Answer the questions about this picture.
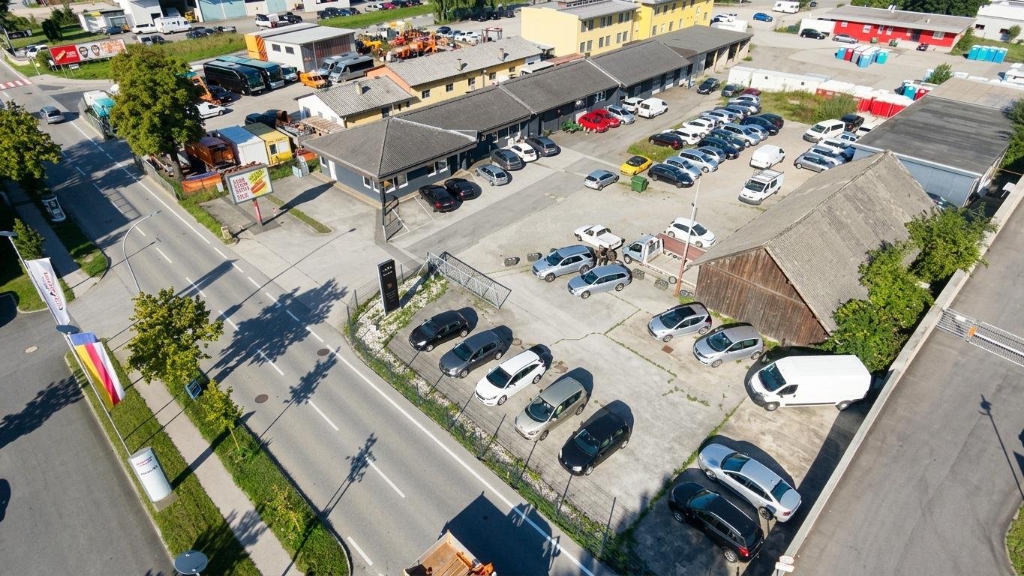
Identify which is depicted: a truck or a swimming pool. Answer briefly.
truck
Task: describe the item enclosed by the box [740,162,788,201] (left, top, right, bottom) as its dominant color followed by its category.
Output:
white van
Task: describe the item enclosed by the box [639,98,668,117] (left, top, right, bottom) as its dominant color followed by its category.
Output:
white vehicle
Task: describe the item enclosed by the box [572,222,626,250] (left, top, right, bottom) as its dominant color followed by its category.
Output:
white truck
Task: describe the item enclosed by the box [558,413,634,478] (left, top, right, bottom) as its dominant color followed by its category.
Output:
black car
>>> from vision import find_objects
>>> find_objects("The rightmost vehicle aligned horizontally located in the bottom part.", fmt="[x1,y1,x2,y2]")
[746,356,872,411]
